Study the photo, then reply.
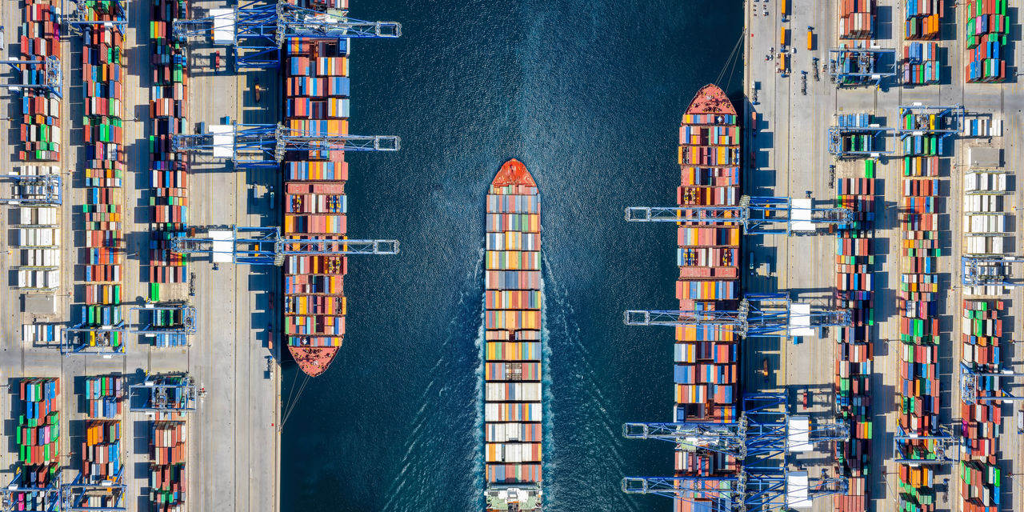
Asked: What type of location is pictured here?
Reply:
port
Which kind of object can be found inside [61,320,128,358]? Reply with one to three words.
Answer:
crane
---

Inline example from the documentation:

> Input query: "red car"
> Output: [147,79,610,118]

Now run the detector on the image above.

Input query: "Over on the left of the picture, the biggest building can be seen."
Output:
[26,294,59,313]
